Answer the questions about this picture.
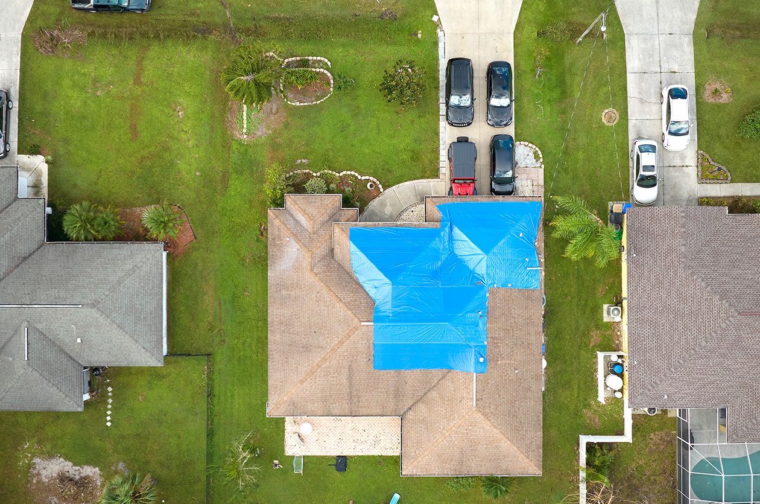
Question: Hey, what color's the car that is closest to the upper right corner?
white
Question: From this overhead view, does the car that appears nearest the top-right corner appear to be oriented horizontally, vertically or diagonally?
vertically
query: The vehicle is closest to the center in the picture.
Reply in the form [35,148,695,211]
[448,134,477,194]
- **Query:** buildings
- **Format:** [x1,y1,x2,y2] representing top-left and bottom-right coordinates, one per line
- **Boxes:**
[620,205,760,443]
[266,191,544,478]
[0,164,170,411]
